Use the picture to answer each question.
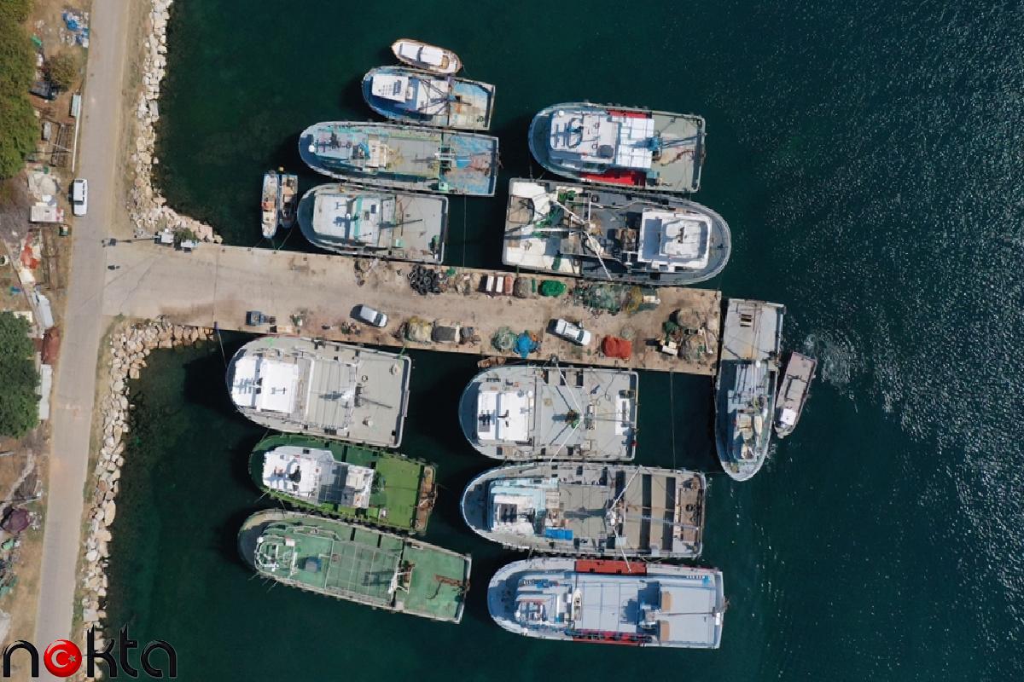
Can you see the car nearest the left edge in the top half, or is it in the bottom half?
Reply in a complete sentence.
Seen from above, the car nearest the left edge lies in the top half of the view.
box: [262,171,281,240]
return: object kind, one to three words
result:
boat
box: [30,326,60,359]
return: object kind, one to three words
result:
shed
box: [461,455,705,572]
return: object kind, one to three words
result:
boat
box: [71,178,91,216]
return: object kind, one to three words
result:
car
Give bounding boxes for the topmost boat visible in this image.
[391,39,463,75]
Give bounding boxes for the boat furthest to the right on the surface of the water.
[773,351,818,439]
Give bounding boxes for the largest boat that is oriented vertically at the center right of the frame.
[712,299,787,482]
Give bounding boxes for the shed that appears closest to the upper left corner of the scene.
[20,203,60,222]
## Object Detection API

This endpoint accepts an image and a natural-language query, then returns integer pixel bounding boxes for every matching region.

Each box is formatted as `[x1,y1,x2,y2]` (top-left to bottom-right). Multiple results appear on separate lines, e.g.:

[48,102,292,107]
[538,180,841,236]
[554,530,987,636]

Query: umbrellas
[0,511,21,541]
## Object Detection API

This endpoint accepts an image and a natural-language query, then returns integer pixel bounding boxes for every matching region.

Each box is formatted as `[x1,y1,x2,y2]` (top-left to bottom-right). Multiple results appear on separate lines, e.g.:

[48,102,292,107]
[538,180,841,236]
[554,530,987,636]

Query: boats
[280,174,299,230]
[225,338,413,447]
[297,183,450,264]
[461,455,705,572]
[527,103,705,195]
[298,120,499,198]
[361,64,496,134]
[237,509,475,624]
[391,39,463,75]
[247,434,438,533]
[502,178,732,285]
[712,299,787,482]
[262,171,281,240]
[773,351,818,439]
[486,553,725,649]
[458,361,641,469]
